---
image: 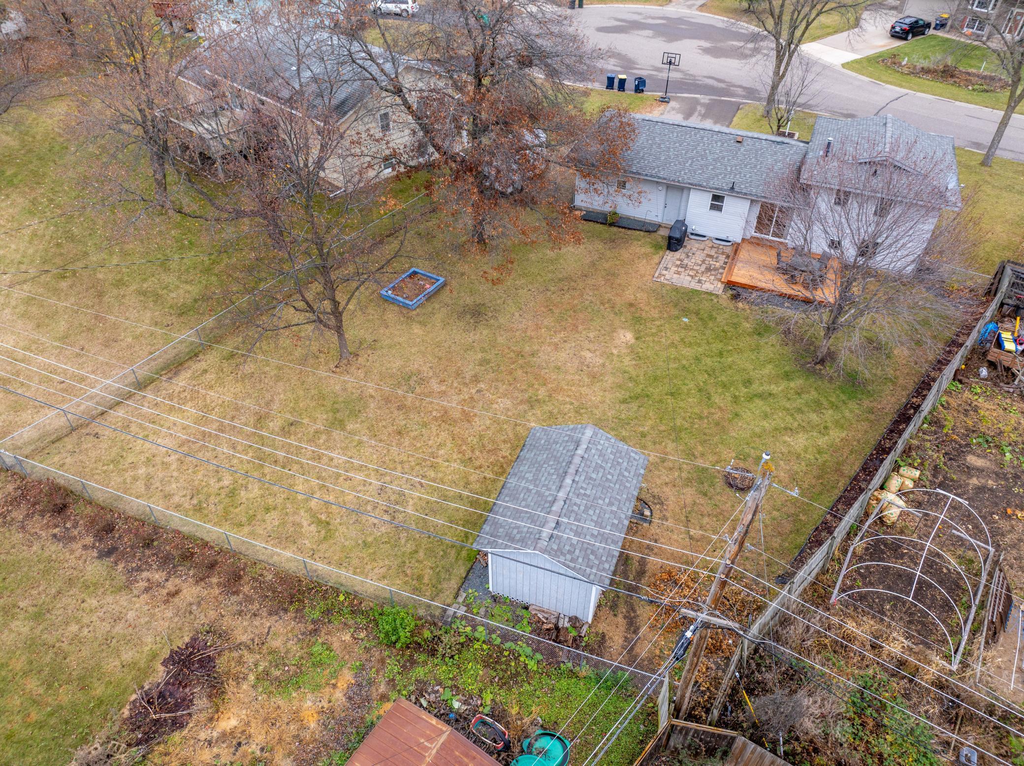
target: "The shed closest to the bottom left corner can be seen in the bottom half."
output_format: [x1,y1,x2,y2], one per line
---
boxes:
[347,696,498,766]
